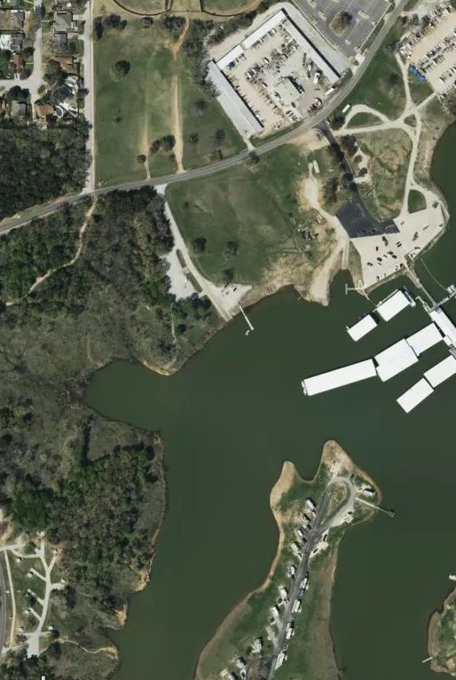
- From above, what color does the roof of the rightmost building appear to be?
white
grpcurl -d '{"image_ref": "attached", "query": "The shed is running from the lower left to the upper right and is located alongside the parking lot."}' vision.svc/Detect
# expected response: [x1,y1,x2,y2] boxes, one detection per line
[242,9,286,49]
